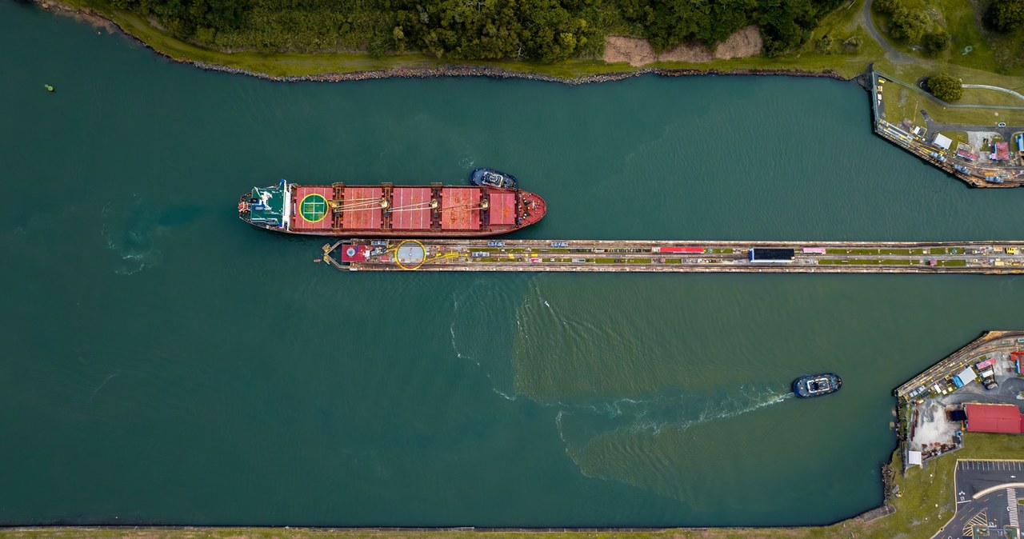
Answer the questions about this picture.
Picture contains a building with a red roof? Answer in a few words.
Yes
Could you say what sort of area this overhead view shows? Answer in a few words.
port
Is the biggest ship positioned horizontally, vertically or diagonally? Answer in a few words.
horizontally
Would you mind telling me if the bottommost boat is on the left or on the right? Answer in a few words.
right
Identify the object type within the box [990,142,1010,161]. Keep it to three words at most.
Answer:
house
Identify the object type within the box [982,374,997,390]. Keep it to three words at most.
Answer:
vehicle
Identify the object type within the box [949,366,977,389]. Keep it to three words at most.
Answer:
building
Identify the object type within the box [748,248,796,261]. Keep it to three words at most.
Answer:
building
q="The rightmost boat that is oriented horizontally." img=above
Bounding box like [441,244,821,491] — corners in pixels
[792,374,844,398]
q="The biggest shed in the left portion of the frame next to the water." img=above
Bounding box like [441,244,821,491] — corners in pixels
[342,244,367,262]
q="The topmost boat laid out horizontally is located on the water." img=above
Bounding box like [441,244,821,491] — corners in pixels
[470,166,519,188]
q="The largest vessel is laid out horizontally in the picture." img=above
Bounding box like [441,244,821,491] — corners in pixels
[236,180,547,235]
